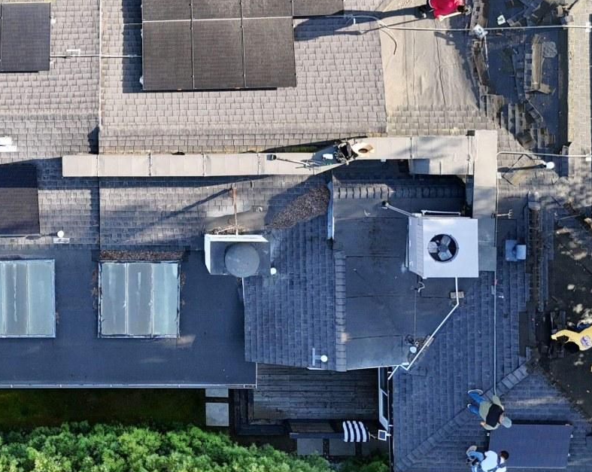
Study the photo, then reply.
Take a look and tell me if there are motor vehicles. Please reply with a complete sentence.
No, there is no motor vehicle in the image.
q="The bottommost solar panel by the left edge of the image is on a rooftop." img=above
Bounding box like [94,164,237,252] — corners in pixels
[0,163,40,234]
